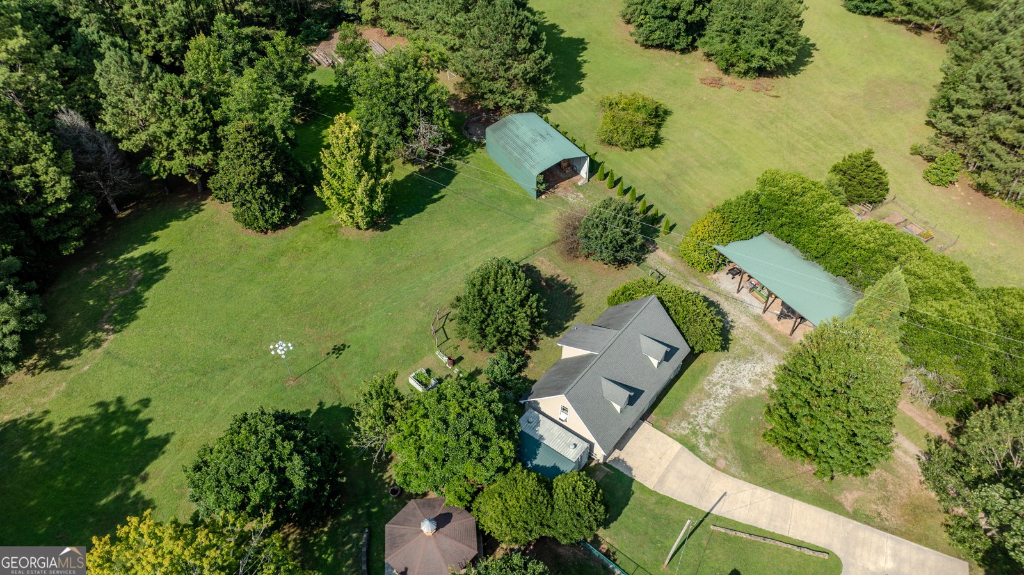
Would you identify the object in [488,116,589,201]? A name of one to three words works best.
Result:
barn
